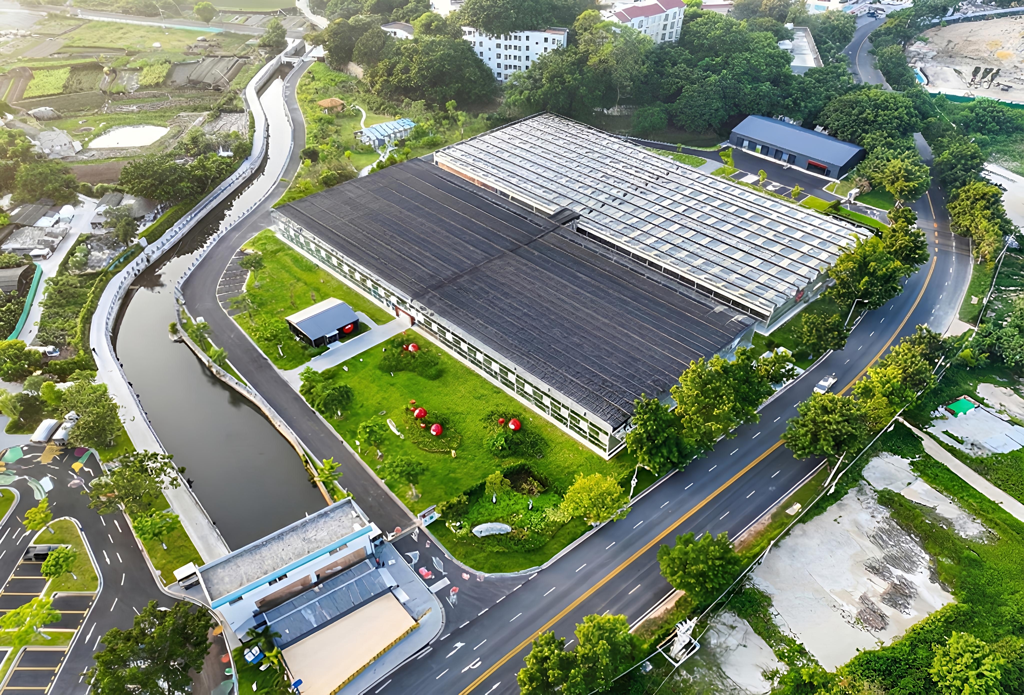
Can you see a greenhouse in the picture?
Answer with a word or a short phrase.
Yes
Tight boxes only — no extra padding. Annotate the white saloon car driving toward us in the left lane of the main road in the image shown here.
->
[816,375,838,392]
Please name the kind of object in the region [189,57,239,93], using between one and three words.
shed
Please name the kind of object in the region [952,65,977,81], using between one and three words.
work vehicle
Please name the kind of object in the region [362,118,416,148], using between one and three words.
building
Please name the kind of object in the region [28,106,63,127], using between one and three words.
shed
